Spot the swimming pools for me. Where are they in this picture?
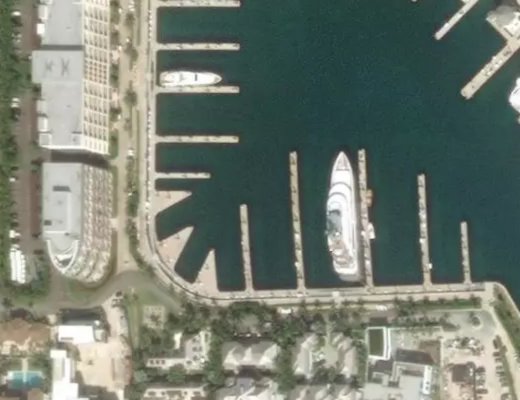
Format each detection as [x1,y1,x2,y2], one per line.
[6,357,43,390]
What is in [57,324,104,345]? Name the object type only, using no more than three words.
house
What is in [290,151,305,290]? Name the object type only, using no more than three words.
pier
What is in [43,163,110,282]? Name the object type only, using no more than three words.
building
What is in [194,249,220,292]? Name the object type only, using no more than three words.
pier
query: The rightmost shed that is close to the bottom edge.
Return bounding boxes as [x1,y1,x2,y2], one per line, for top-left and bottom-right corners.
[452,363,471,384]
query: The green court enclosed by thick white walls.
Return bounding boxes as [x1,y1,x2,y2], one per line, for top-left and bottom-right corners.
[368,327,386,358]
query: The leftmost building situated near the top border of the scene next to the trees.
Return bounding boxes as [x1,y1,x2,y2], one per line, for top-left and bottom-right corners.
[32,0,110,155]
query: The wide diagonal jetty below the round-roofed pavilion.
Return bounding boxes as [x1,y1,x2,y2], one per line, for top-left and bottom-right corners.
[461,40,520,99]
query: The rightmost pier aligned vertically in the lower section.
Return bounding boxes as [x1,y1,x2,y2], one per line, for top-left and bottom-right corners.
[461,222,473,283]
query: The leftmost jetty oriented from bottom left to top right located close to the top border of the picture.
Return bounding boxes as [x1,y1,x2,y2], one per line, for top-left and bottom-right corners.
[435,0,478,42]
